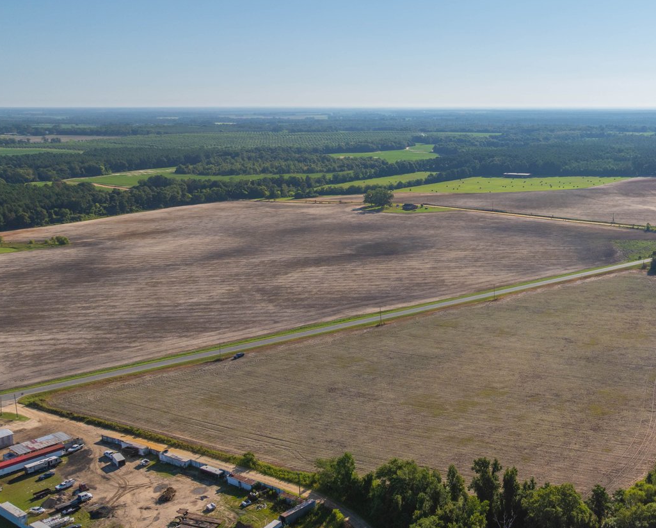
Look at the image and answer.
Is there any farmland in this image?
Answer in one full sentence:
Yes, farmland shows up in the scene.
